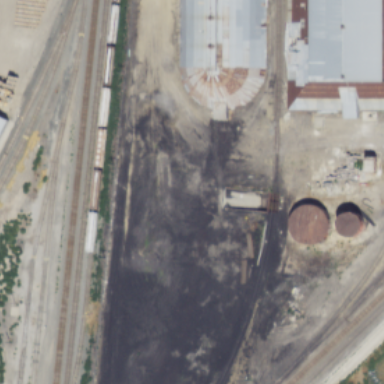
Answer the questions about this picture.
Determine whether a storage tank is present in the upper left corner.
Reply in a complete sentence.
No, there is no storage tank in the upper left corner.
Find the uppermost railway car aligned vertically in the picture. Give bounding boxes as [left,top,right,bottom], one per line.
[108,3,121,44]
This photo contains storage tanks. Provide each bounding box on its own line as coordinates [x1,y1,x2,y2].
[288,204,332,244]
[336,210,376,238]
